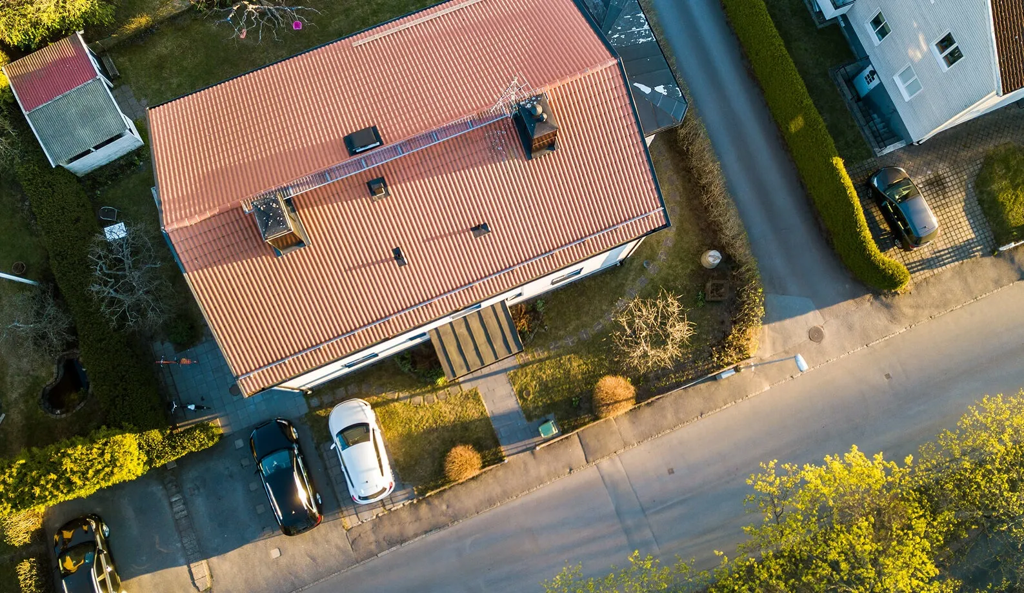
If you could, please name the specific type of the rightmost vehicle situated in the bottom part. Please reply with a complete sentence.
The rightmost vehicle situated in the bottom part can be classified as an automobile.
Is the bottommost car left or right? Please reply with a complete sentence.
The bottommost car sits on the left side.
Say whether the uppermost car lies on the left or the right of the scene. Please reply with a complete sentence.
It is on the right.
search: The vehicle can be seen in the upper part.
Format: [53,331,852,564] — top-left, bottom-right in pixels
[865,162,946,253]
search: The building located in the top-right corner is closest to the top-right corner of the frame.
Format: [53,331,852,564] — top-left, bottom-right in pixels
[812,0,1024,148]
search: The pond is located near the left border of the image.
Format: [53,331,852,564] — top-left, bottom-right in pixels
[37,352,93,420]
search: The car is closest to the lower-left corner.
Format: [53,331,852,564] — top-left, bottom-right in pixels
[47,512,134,593]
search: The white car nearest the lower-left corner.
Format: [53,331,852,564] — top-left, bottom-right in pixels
[326,396,400,508]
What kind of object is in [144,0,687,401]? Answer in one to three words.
house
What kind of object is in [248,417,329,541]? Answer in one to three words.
car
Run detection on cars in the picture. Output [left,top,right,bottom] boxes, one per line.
[47,512,134,593]
[865,162,946,253]
[248,417,329,541]
[326,396,400,508]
